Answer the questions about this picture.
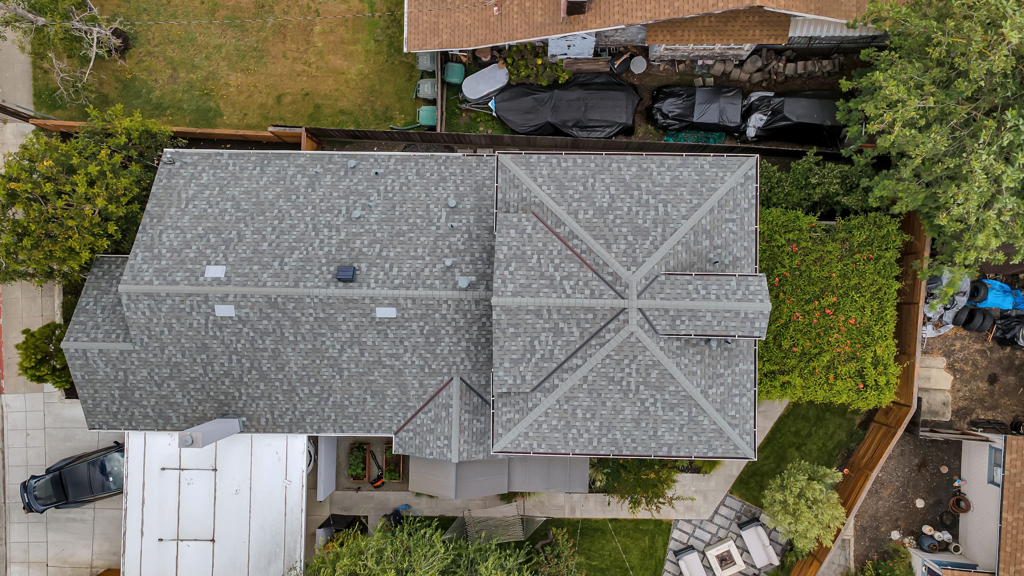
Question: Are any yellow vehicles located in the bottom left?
No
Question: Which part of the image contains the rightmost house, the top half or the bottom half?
bottom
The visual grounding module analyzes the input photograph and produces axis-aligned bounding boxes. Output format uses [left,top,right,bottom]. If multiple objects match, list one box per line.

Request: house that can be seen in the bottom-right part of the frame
[909,435,1024,576]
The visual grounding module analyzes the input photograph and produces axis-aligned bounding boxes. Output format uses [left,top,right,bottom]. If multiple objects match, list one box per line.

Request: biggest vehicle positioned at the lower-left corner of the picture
[17,438,125,515]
